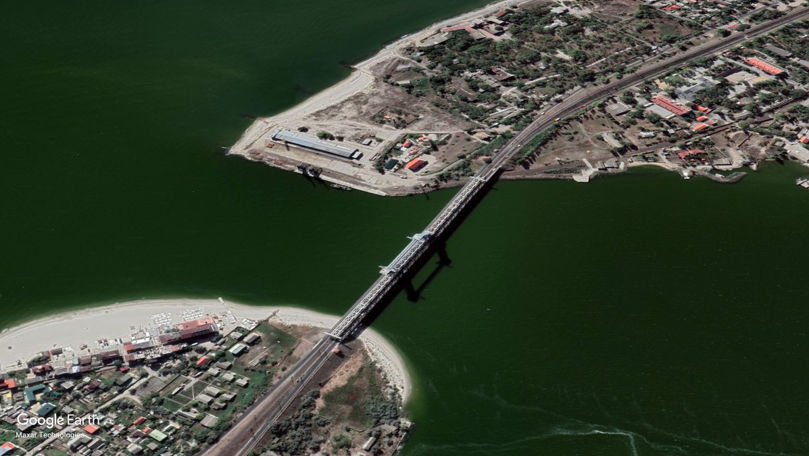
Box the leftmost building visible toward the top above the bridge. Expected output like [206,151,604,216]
[270,131,359,164]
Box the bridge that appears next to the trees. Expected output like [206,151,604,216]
[316,179,495,352]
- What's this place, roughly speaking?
port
